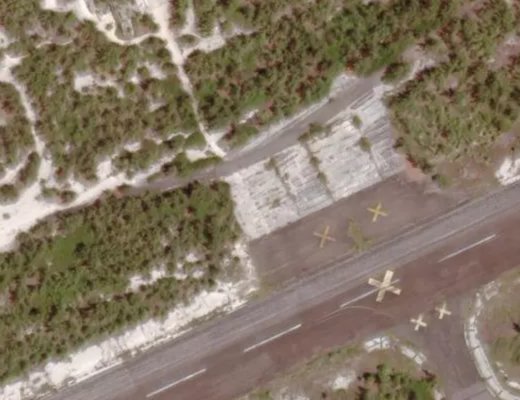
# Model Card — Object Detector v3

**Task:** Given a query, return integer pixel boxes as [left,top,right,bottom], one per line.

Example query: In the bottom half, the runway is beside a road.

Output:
[36,89,520,400]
